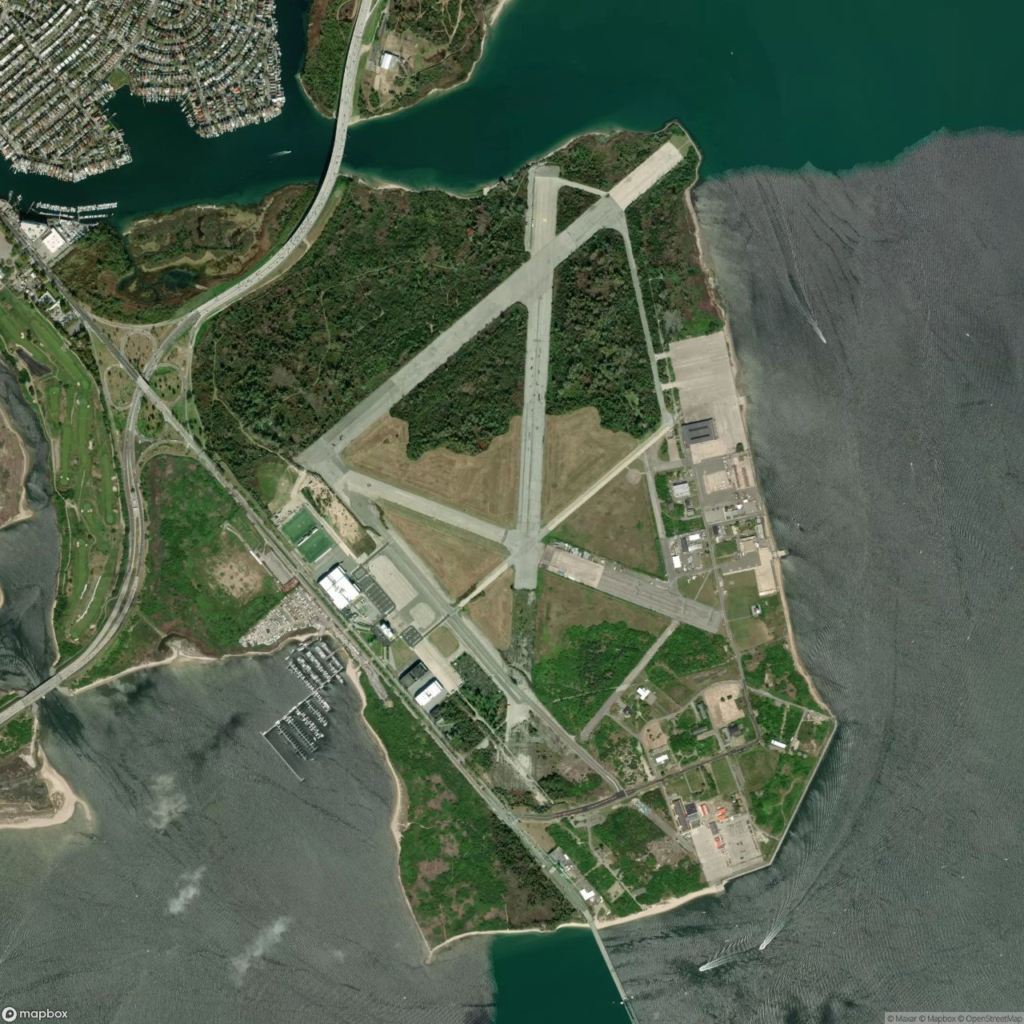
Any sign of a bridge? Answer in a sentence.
Yes, the photo shows a bridge.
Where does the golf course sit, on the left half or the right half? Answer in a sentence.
You can find the golf course on the left side of the picture.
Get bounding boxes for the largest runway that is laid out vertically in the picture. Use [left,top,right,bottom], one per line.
[517,282,554,531]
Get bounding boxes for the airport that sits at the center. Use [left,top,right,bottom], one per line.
[294,142,723,805]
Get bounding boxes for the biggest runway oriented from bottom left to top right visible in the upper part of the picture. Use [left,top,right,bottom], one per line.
[355,192,624,437]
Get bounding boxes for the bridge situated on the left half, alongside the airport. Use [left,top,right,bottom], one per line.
[197,0,379,315]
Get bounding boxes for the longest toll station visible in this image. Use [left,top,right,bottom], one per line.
[557,862,572,884]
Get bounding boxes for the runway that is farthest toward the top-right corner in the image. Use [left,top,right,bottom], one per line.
[608,142,683,210]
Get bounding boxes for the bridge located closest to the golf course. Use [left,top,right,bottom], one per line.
[0,666,70,724]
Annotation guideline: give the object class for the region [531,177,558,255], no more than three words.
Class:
runway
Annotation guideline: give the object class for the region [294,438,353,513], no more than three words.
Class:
runway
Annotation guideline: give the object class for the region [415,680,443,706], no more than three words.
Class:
hangar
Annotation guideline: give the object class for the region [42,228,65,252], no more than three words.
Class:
building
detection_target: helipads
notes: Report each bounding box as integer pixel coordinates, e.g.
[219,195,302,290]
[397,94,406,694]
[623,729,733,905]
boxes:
[627,469,644,484]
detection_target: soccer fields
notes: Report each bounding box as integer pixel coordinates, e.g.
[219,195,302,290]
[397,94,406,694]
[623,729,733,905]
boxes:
[299,528,333,563]
[282,506,318,543]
